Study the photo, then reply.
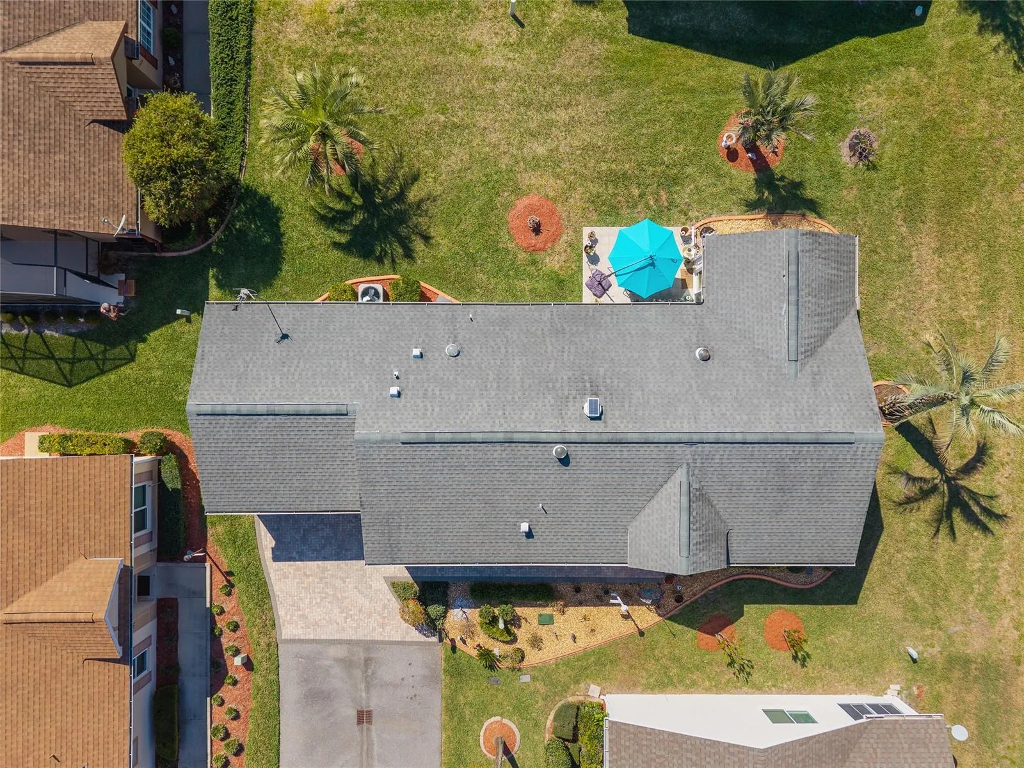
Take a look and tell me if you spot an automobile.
No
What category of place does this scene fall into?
residential area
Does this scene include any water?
No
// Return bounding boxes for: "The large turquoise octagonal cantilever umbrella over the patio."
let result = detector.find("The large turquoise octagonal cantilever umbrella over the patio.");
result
[584,218,684,299]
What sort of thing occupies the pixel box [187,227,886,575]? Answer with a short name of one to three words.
house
